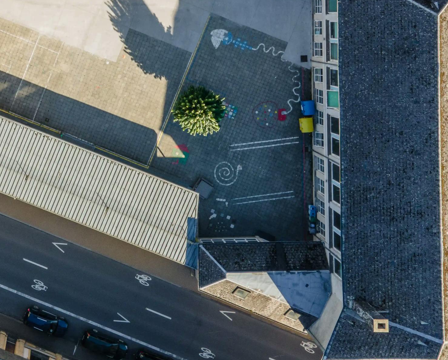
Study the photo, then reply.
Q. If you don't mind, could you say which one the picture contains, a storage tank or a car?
car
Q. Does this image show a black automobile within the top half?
No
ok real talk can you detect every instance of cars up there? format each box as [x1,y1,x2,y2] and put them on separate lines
[130,345,177,360]
[77,326,133,360]
[18,302,73,340]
